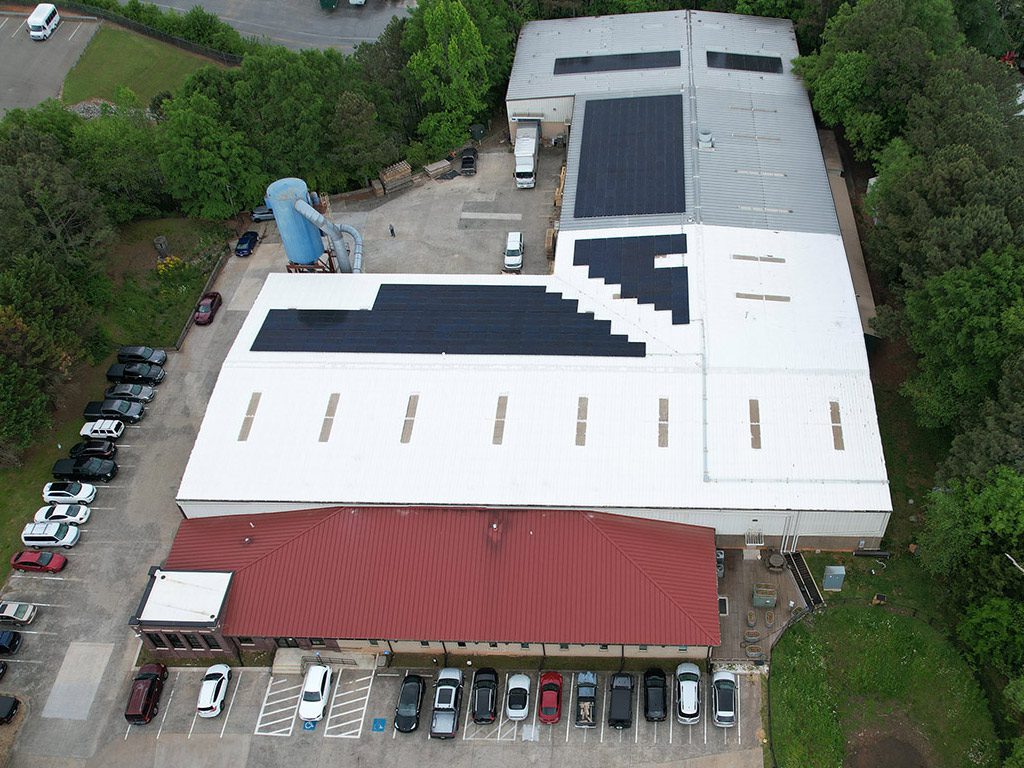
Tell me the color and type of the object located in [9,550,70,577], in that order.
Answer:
red car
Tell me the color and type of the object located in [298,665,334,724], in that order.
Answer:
white car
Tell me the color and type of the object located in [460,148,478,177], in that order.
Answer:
black vehicle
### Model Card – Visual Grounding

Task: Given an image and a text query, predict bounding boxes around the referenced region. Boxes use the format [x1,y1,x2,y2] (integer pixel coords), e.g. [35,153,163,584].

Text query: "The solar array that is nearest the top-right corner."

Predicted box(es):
[707,49,784,72]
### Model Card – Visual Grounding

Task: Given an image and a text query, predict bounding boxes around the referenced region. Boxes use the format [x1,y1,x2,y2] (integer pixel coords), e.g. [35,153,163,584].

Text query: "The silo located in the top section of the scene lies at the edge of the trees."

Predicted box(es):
[266,178,364,274]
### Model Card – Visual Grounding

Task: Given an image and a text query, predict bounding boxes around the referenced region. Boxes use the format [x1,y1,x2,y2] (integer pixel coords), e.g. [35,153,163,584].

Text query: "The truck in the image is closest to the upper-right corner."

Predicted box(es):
[512,123,538,188]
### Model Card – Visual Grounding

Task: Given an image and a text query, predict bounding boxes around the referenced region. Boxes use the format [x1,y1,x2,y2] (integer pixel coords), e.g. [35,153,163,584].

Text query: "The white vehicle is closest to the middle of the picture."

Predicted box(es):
[504,232,524,267]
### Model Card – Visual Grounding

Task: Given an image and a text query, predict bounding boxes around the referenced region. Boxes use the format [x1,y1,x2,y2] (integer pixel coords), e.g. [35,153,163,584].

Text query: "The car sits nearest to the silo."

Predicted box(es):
[244,204,276,224]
